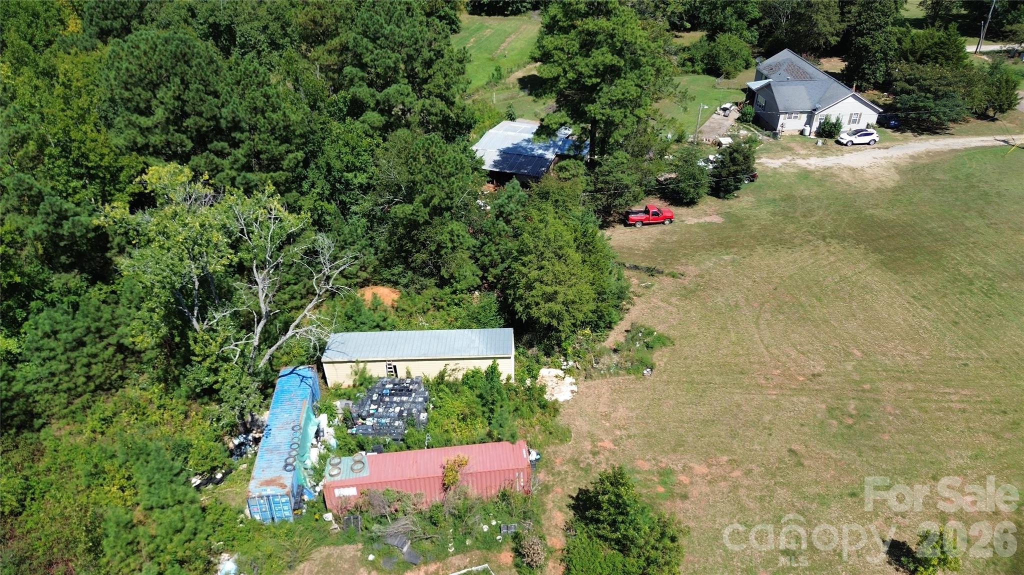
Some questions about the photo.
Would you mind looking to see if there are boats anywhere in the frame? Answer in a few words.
No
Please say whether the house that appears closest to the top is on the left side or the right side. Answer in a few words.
right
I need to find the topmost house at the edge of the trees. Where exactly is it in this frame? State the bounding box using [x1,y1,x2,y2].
[739,47,881,134]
